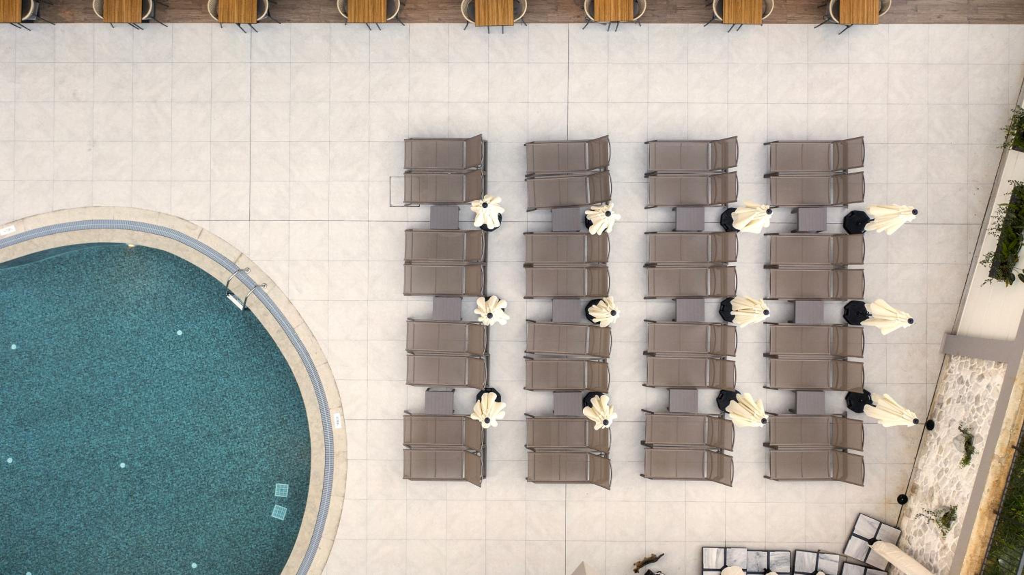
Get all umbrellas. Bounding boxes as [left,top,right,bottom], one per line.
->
[470,388,504,426]
[719,293,771,329]
[470,197,506,231]
[474,294,510,327]
[580,392,618,429]
[583,202,618,235]
[846,391,919,426]
[716,390,768,428]
[842,200,917,234]
[585,292,620,331]
[721,200,774,234]
[842,299,913,333]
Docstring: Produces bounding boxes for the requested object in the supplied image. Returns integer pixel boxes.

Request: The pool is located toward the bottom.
[0,243,311,575]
